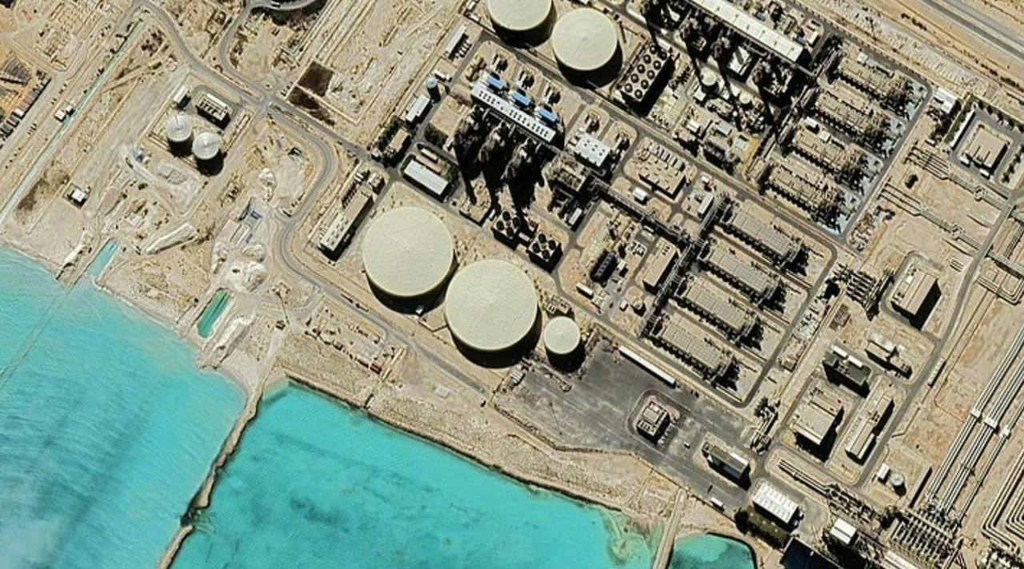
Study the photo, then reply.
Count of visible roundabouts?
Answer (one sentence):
I count no roundabouts.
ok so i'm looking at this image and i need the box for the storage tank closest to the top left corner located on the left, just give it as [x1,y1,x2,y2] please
[166,115,195,144]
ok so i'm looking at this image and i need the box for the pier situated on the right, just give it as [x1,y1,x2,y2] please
[654,488,686,569]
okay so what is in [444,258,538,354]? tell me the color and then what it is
white storage tank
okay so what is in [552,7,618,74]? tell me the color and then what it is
white storage tank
